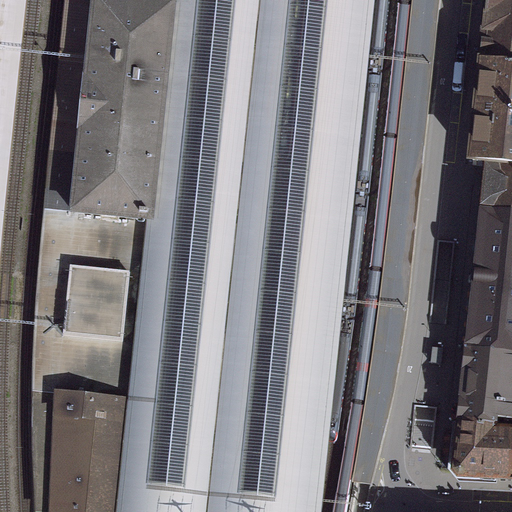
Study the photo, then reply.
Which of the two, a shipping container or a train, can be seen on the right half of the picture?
train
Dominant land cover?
buildings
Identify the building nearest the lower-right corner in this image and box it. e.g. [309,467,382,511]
[448,417,512,484]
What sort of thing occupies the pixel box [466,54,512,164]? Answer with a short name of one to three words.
building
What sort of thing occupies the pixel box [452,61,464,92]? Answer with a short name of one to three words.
vehicle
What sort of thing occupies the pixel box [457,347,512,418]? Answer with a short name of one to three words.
building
